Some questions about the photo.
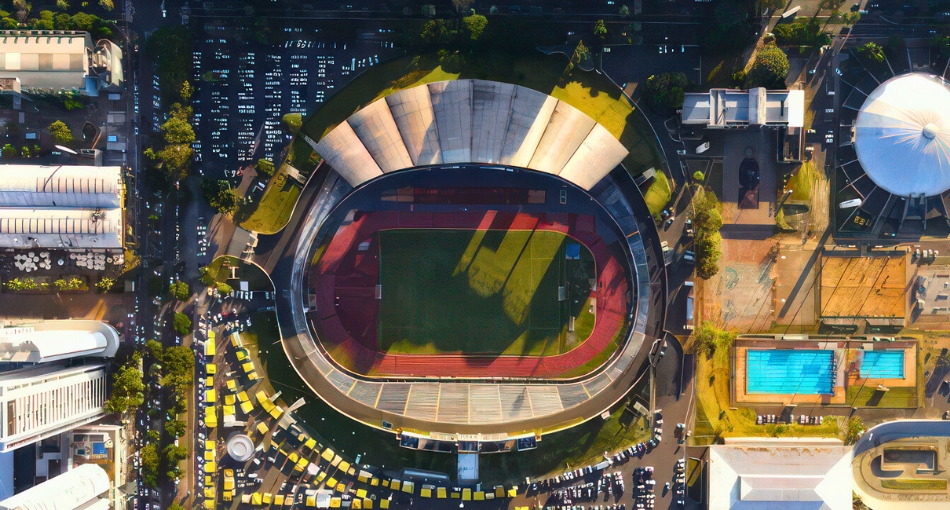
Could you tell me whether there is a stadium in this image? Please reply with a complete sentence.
Yes, the frame does contain a stadium.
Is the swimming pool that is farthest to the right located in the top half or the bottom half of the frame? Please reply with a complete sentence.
Seen from above, the swimming pool that is farthest to the right lies in the bottom half of the view.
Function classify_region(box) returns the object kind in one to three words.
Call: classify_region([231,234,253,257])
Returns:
shed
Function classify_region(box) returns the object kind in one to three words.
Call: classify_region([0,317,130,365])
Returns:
building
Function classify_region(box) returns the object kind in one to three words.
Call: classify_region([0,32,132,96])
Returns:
building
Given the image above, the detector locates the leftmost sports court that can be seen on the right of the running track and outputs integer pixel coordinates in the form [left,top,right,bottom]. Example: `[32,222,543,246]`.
[722,256,774,326]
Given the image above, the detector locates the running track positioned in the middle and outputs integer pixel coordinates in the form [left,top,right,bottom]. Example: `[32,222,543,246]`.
[309,187,635,379]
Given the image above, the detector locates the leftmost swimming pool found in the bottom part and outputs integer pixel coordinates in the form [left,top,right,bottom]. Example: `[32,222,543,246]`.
[737,347,846,404]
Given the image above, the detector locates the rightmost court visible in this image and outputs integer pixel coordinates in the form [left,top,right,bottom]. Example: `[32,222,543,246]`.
[822,256,907,317]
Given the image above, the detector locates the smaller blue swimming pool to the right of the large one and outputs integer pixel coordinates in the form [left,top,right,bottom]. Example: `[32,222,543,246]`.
[846,347,916,404]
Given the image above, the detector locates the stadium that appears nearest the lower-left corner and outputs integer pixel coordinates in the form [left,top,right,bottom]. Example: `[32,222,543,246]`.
[273,80,667,486]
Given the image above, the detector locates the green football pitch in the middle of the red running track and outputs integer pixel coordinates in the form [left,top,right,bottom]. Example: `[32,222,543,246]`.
[379,230,596,355]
